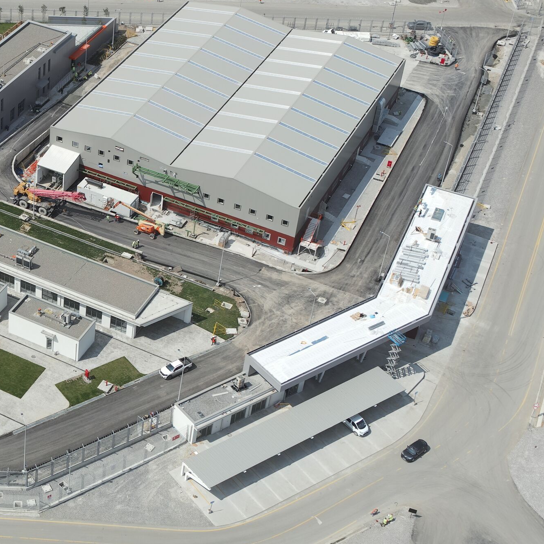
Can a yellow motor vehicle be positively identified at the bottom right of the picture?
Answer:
No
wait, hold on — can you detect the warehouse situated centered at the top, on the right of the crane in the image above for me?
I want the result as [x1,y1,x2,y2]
[50,0,407,251]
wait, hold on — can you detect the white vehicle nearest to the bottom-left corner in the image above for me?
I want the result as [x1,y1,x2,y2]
[158,355,195,379]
